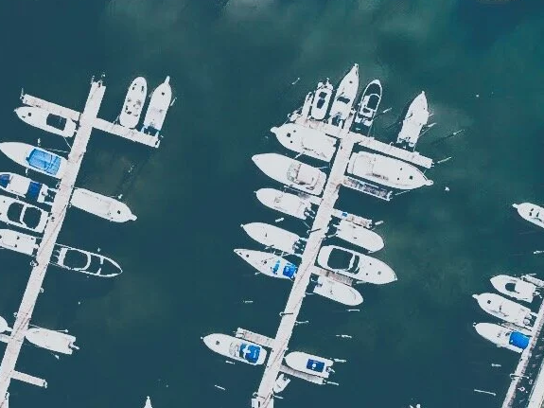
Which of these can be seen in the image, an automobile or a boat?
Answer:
boat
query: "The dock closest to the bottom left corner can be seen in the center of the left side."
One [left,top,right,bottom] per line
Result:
[0,81,164,408]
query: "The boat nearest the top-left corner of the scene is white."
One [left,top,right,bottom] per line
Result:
[14,94,78,144]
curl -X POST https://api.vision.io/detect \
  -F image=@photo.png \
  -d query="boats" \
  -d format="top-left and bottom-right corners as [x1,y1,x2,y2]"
[472,321,532,357]
[397,88,428,149]
[326,216,384,251]
[270,124,340,167]
[252,153,329,199]
[233,248,300,282]
[474,294,539,337]
[275,371,290,394]
[239,222,308,258]
[0,142,69,184]
[0,228,40,259]
[324,64,359,137]
[0,196,51,237]
[43,240,123,277]
[514,203,544,231]
[254,188,319,226]
[342,151,440,190]
[14,94,78,144]
[24,328,81,357]
[314,244,397,285]
[308,80,333,126]
[0,171,56,208]
[142,75,173,138]
[69,187,137,222]
[488,276,543,309]
[305,274,364,308]
[120,76,149,129]
[282,352,339,383]
[201,334,269,374]
[346,79,388,138]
